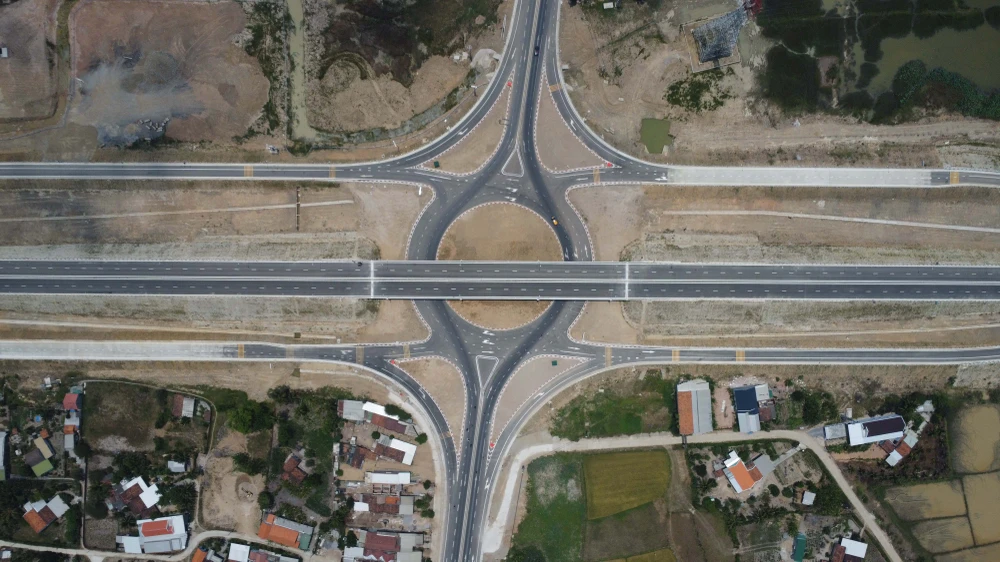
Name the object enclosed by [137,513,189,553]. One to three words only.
house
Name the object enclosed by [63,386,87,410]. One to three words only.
house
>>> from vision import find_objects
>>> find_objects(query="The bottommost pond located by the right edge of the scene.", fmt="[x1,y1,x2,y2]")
[871,25,1000,96]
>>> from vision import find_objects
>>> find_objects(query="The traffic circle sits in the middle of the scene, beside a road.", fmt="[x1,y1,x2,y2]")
[384,164,605,388]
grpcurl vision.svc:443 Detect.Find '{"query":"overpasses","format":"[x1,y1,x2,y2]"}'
[371,260,628,300]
